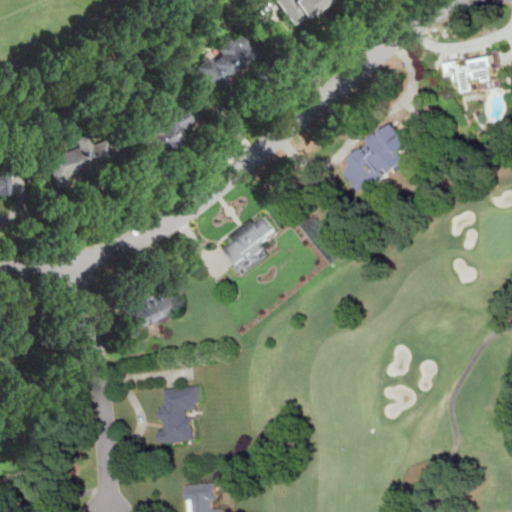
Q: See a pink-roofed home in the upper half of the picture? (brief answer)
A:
No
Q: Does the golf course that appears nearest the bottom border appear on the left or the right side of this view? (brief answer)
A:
right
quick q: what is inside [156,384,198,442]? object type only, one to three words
house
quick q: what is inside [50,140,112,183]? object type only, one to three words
house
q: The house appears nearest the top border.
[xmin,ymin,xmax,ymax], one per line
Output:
[274,0,334,28]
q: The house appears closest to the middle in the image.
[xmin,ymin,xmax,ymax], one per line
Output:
[218,214,277,265]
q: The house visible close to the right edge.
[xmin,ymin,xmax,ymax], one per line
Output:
[441,57,492,95]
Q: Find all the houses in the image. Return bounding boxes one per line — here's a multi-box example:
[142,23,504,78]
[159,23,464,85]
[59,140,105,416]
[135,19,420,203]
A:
[274,0,334,28]
[184,486,222,512]
[156,384,198,442]
[0,176,12,196]
[50,140,112,183]
[164,112,197,148]
[200,35,256,82]
[138,294,180,332]
[340,129,402,187]
[218,214,277,265]
[441,57,492,95]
